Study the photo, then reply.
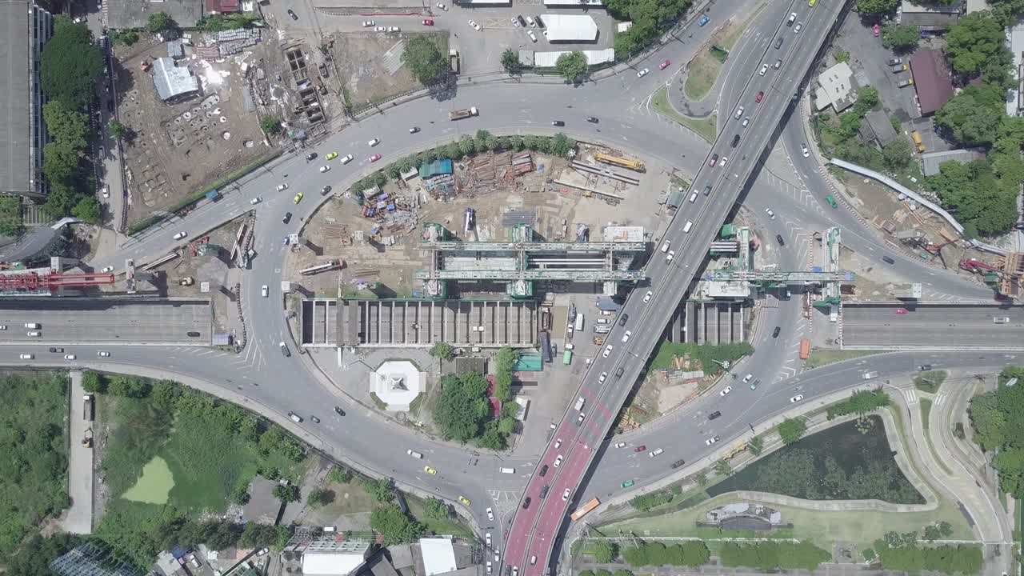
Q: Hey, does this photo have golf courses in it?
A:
No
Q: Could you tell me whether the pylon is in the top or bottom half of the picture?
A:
bottom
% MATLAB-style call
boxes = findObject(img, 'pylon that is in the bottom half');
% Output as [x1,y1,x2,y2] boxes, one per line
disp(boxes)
[618,531,644,552]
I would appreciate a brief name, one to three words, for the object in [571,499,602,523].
bus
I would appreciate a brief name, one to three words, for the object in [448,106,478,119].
vehicle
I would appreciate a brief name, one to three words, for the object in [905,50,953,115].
building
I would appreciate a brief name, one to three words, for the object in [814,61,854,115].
house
